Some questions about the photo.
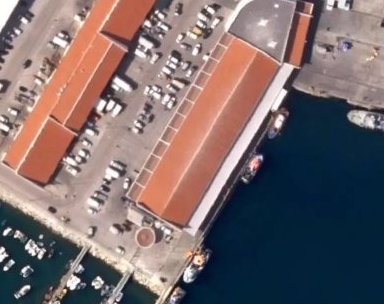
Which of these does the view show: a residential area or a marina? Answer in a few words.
marina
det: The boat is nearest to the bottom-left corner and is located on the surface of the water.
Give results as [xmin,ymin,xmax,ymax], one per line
[14,285,30,300]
